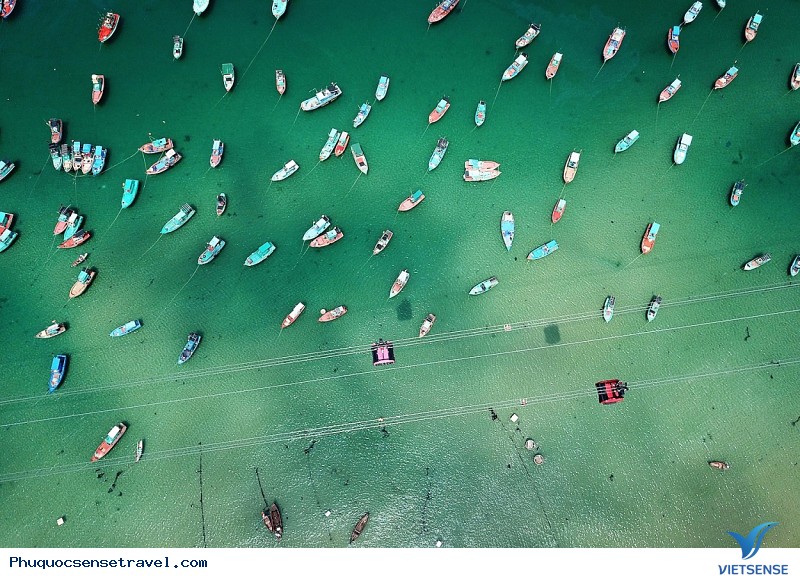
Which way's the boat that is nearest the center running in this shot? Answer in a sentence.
From this overhead view, the boat that is nearest the center appears to run on a diagonal.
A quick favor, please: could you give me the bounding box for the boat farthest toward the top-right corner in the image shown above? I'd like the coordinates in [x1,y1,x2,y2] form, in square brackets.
[745,5,767,43]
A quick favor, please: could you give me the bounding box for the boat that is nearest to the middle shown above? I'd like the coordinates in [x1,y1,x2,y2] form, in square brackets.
[389,268,413,298]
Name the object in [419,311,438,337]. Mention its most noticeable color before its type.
white boat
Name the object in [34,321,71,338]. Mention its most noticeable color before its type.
white boat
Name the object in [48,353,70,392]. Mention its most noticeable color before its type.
blue boat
